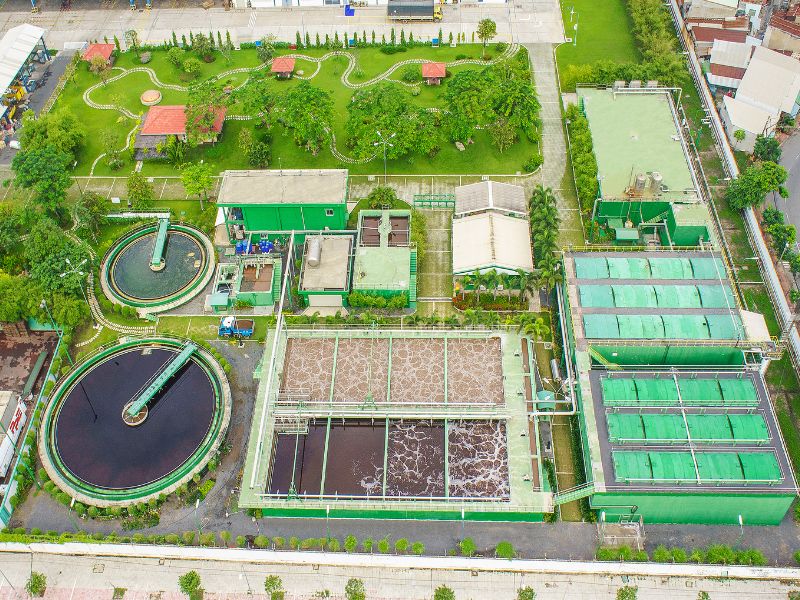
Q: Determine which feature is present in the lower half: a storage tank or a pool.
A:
storage tank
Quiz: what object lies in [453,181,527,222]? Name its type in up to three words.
shed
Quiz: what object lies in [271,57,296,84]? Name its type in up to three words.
building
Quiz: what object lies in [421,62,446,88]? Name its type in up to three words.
building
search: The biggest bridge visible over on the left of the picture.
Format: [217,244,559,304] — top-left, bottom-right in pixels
[124,345,199,419]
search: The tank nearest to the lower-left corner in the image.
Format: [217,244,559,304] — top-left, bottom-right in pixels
[30,330,236,509]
